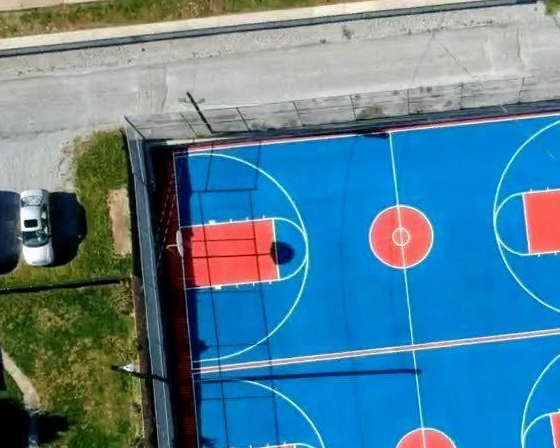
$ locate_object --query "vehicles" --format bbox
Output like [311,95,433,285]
[12,184,55,266]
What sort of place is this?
sports ground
